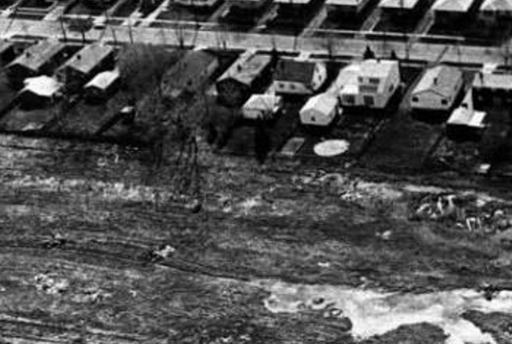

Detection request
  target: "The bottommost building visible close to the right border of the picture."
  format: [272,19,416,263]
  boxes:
[448,109,491,136]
